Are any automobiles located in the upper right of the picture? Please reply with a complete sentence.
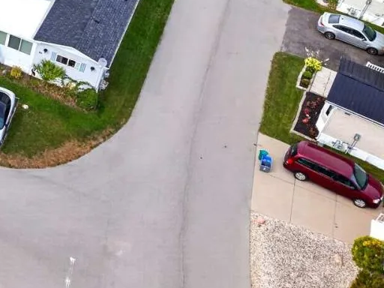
Yes, an automobile appears in the upper right of the picture.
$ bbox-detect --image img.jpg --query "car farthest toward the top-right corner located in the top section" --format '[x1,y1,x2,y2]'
[317,8,384,54]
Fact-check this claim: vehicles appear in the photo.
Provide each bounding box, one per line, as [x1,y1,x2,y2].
[287,140,384,211]
[0,81,21,144]
[317,8,384,54]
